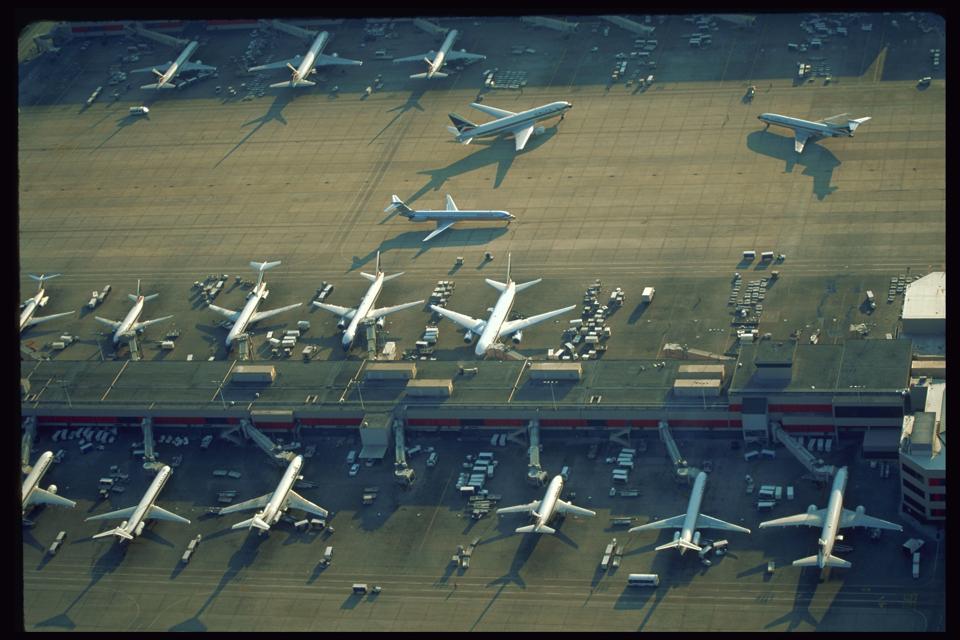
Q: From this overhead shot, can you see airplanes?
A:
Yes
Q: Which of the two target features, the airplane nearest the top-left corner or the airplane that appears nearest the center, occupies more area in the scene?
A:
the airplane that appears nearest the center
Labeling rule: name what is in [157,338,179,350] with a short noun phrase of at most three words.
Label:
vehicle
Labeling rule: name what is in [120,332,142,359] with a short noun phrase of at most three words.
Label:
jet bridge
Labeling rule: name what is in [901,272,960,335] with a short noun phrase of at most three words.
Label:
building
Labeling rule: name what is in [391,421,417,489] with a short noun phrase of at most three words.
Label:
jet bridge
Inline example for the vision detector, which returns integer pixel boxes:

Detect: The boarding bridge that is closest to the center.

[492,343,537,359]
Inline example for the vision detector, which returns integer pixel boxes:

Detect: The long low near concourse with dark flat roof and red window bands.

[0,359,734,467]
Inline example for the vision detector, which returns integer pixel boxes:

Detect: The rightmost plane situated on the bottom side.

[759,465,903,566]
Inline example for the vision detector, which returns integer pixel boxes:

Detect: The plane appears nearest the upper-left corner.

[131,40,218,88]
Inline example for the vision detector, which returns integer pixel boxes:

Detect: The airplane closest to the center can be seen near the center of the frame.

[431,252,573,357]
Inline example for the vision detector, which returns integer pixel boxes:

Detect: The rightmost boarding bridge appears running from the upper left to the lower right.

[770,428,836,487]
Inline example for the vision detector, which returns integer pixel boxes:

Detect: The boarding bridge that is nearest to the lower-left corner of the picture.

[17,416,39,479]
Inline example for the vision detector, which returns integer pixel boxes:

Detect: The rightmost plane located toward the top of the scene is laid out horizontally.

[757,112,869,151]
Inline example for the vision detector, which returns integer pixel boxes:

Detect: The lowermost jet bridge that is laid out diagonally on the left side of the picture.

[234,423,293,472]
